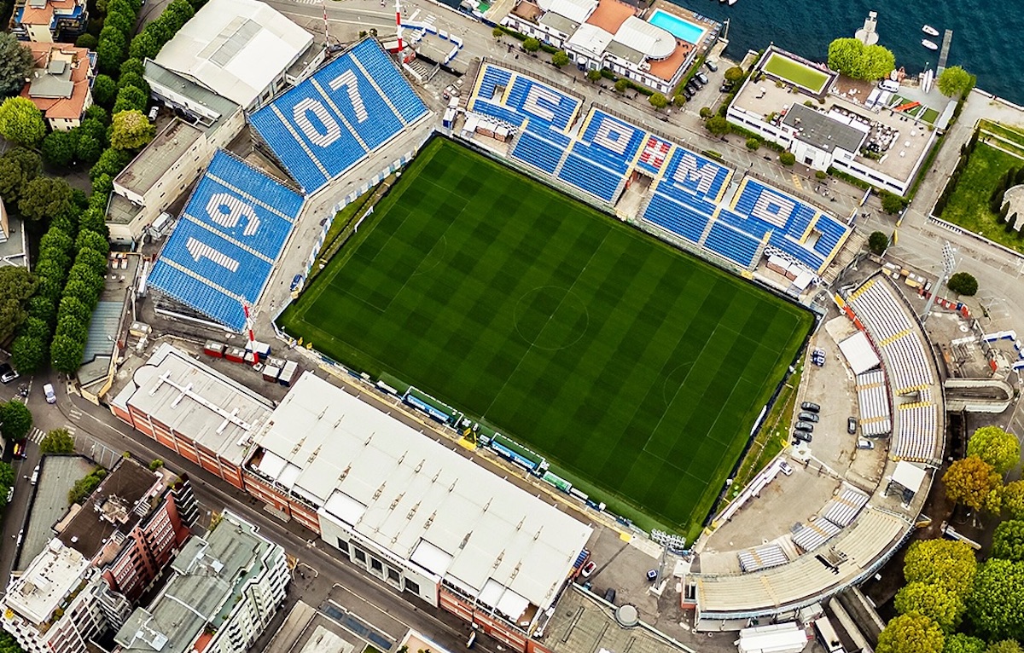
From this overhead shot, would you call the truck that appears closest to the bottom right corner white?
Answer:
Yes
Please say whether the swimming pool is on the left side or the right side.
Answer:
right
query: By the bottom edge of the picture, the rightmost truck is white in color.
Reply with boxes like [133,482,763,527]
[812,611,849,653]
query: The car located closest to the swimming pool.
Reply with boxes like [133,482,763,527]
[704,57,720,71]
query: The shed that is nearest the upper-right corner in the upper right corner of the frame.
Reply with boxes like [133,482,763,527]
[936,100,958,134]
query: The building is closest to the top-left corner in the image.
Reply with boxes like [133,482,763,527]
[15,0,91,46]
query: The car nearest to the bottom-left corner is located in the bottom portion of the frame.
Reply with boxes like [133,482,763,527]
[13,526,26,546]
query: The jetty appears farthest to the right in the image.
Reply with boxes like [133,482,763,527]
[937,27,953,77]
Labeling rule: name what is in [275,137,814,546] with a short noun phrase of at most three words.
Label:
soccer field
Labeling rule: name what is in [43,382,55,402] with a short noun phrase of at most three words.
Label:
vehicle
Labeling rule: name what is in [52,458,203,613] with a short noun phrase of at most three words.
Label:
building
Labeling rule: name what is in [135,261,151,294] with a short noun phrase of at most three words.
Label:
vehicle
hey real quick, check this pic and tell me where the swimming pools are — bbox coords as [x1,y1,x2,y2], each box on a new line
[648,0,721,54]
